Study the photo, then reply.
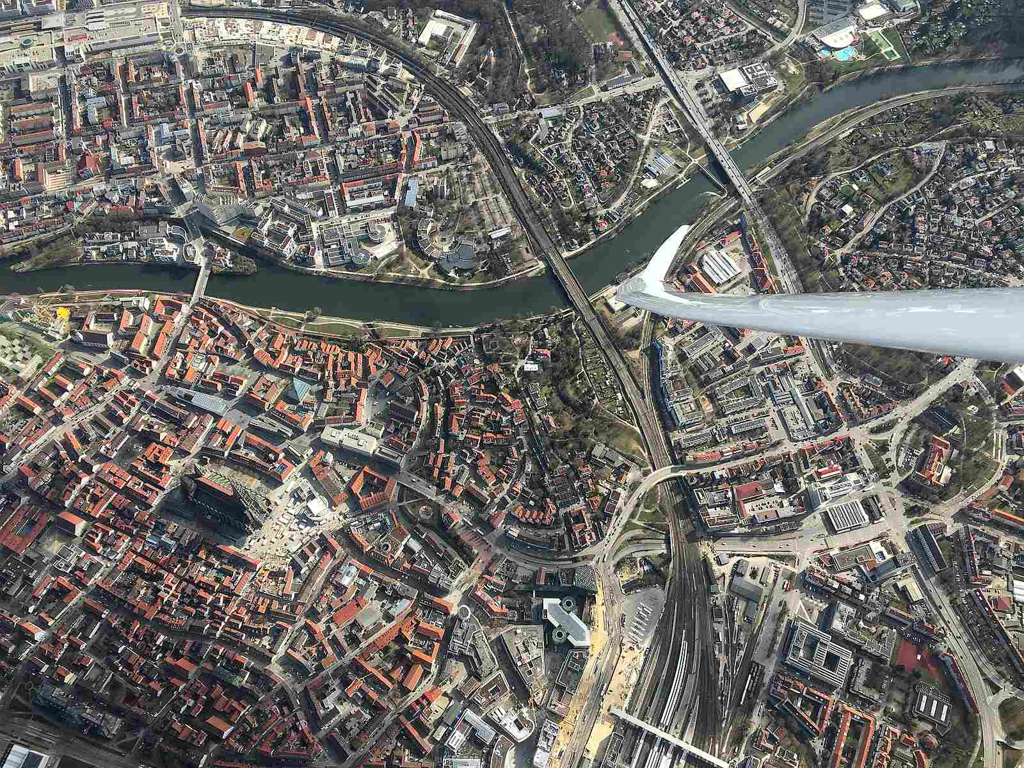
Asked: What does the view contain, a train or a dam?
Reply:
train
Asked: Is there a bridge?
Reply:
Yes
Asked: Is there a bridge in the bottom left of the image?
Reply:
No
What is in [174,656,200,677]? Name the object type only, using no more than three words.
house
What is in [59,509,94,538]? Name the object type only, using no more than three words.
house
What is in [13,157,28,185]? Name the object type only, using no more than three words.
building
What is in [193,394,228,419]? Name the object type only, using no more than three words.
building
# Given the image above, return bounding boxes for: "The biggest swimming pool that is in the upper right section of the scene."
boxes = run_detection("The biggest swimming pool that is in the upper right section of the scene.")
[832,45,859,62]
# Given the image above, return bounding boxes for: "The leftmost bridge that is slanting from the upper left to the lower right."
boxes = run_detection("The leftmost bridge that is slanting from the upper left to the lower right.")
[544,248,595,321]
